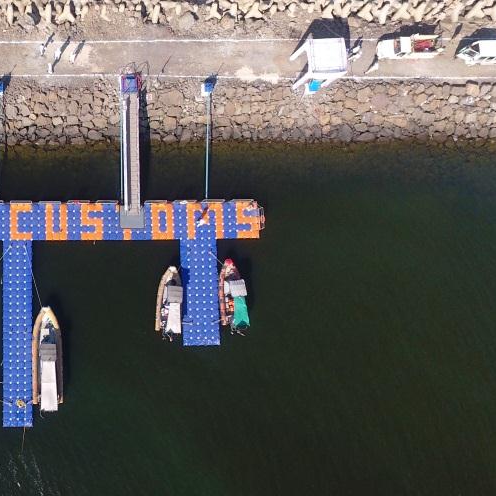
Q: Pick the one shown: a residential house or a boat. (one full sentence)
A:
There is a boat in the scene.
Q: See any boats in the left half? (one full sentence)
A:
Yes, you'll find a boat in the left half.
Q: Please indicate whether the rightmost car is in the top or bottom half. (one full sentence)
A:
The top half of the photo is where the rightmost car is.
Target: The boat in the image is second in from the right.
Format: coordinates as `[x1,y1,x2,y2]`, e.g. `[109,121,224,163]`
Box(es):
[153,266,186,337]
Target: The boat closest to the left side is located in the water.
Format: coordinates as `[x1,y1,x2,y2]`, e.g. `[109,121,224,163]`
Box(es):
[31,308,63,412]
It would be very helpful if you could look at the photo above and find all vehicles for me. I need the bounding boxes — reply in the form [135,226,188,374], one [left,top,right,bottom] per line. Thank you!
[373,32,446,62]
[452,39,496,68]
